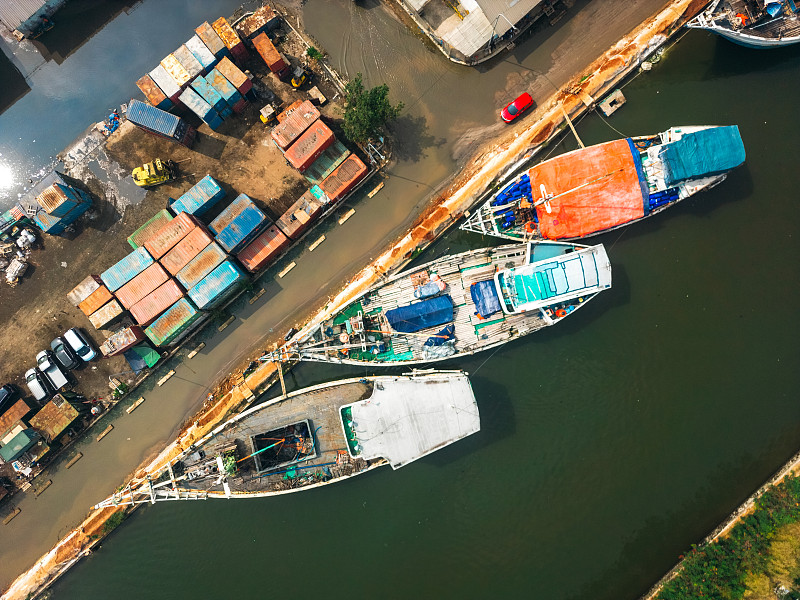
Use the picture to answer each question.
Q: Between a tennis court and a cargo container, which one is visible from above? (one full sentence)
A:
The image shows a cargo container.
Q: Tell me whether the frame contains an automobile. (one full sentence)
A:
Yes, an automobile can be made out from above.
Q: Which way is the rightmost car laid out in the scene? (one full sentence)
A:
In this picture, the rightmost car lies diagonally.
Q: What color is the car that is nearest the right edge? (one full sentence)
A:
In this view, the car that is nearest the right edge is red.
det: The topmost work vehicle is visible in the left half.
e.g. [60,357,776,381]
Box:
[286,62,311,84]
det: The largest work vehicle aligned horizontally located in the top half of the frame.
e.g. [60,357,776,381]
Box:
[123,159,183,187]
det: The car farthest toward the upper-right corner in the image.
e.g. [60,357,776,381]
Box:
[500,90,538,122]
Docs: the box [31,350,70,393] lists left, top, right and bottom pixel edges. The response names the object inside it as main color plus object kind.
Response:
white vehicle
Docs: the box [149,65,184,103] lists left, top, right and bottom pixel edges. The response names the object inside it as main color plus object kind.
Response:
white shipping container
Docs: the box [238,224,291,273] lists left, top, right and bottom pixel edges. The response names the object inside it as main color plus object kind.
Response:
red shipping container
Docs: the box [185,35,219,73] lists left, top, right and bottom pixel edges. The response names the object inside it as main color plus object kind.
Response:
white shipping container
